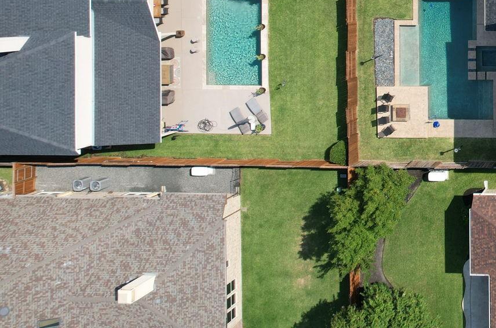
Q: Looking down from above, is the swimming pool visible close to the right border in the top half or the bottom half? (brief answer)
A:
top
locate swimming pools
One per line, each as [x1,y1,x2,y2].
[400,0,496,119]
[203,0,269,89]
